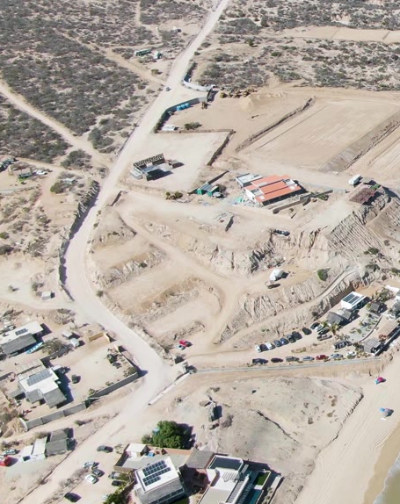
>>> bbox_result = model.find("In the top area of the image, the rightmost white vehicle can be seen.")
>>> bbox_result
[347,172,364,188]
